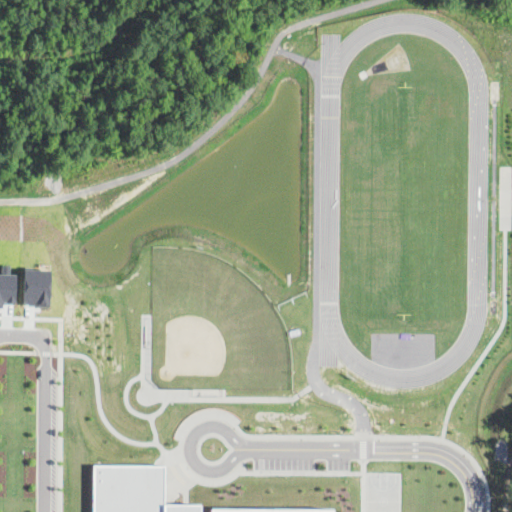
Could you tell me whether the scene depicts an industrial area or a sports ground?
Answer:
sports ground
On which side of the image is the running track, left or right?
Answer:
right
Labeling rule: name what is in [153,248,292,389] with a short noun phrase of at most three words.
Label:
baseball field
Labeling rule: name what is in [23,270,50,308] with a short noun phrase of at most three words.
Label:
house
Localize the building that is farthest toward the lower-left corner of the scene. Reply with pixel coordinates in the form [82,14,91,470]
[92,464,166,512]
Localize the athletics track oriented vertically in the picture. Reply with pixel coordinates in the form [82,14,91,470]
[320,14,488,389]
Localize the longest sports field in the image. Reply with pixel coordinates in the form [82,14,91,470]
[340,34,468,361]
